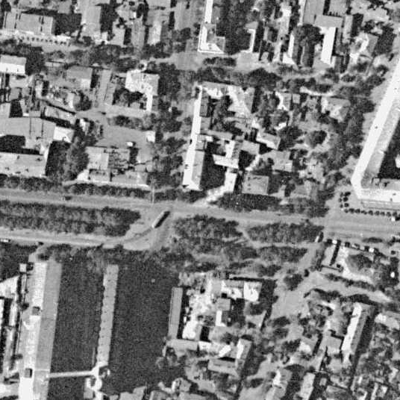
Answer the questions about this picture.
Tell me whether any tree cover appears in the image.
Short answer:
Yes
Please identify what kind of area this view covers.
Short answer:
residential area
